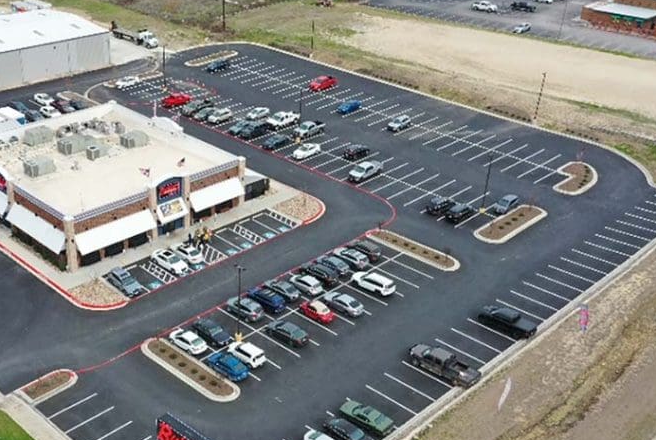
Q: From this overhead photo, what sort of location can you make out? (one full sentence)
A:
The picture captures a parking lot.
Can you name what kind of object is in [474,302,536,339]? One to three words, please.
truck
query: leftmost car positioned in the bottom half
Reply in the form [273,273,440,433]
[112,262,147,293]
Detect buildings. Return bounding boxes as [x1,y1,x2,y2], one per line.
[582,0,656,34]
[0,101,266,274]
[0,9,113,90]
